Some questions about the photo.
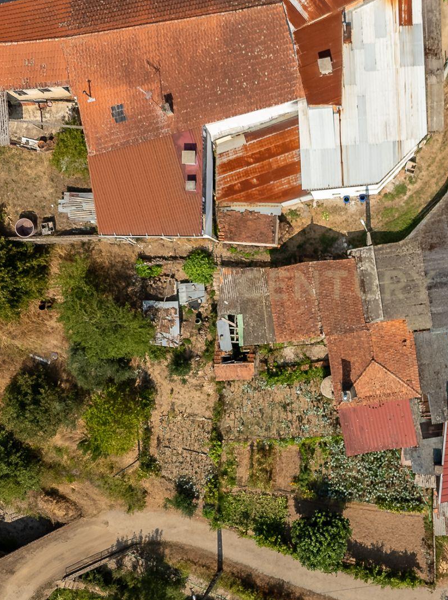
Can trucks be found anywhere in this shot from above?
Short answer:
No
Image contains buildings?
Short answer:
Yes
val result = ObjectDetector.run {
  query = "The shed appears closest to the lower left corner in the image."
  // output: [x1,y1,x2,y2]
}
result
[143,301,185,347]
